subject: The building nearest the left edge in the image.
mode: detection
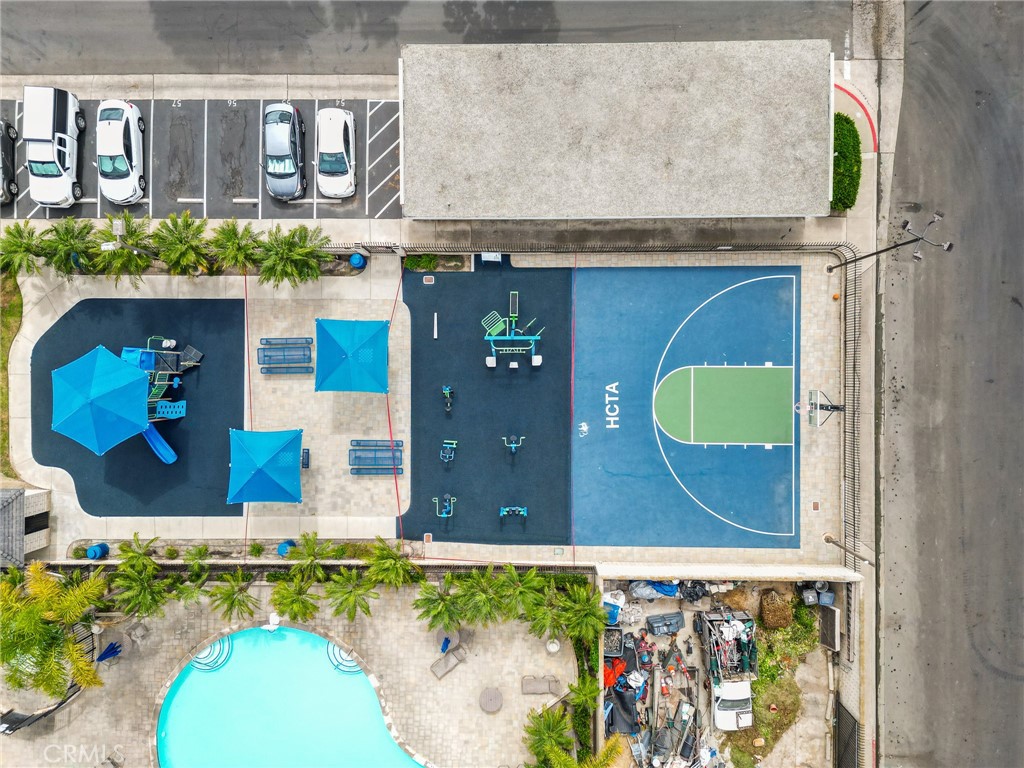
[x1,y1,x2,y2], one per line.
[0,487,48,569]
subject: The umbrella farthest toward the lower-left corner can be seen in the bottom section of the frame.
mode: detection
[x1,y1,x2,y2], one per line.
[98,643,119,661]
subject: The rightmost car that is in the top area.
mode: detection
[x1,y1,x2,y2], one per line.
[311,107,359,198]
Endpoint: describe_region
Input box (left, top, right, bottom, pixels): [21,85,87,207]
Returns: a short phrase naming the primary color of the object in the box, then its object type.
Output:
white truck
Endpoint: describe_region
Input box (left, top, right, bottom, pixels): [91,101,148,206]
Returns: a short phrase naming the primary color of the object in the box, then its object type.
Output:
white car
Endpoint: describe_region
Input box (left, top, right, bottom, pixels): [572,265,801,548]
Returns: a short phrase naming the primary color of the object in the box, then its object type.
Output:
blue basketball court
